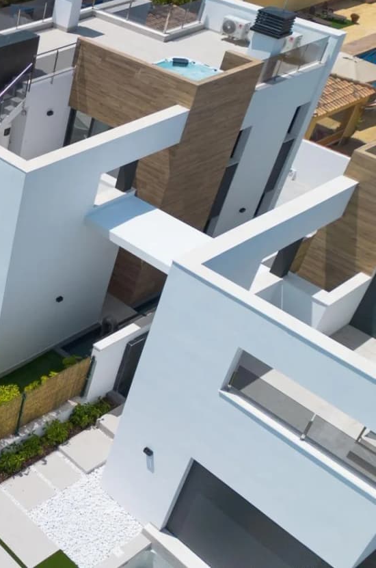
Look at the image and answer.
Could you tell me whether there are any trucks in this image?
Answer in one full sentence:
No, this view has no truck in it.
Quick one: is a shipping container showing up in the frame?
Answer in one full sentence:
No, no shipping container is visible in the view.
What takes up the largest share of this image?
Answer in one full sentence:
The scene is dominated by buildings.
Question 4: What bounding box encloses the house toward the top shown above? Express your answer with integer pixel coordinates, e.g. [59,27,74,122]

[0,0,356,380]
